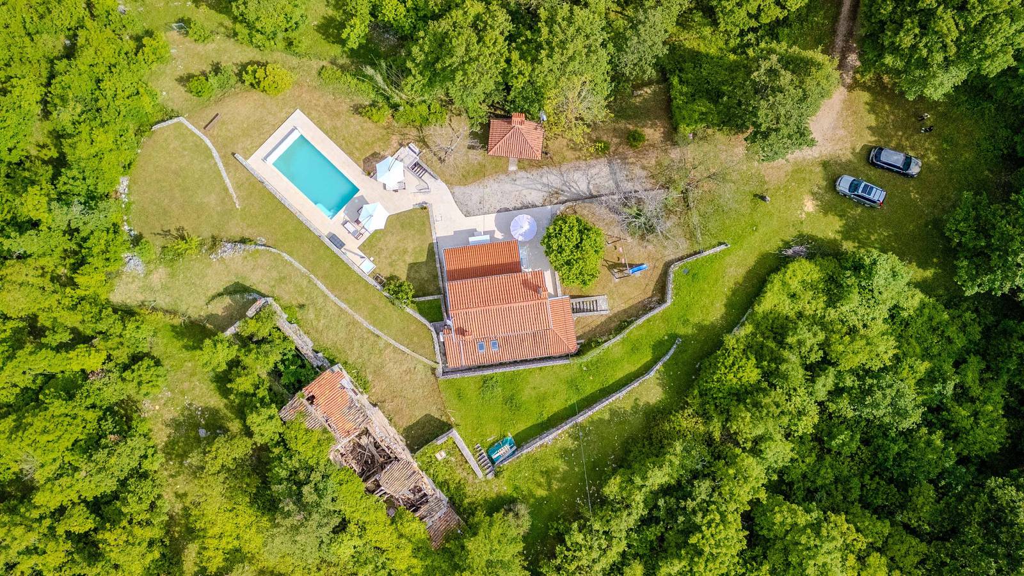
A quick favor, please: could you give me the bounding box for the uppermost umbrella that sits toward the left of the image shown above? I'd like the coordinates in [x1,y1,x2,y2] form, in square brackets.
[374,152,409,191]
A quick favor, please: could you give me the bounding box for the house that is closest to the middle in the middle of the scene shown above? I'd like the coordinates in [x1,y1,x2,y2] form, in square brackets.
[439,235,578,370]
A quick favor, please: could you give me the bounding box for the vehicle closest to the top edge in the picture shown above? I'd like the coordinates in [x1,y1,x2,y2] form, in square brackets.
[867,145,924,179]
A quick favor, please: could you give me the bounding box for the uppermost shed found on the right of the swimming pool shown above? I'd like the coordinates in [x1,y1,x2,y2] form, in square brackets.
[486,114,545,161]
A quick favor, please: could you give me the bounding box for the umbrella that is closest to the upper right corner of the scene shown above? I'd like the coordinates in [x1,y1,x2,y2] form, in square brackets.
[510,214,537,241]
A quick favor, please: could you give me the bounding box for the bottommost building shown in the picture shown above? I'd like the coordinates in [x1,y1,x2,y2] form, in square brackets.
[280,355,469,549]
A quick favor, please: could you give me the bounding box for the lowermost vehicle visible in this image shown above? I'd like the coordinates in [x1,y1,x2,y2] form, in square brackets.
[834,174,892,209]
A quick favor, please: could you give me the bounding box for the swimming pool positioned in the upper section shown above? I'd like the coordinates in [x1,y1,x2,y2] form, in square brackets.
[269,131,362,223]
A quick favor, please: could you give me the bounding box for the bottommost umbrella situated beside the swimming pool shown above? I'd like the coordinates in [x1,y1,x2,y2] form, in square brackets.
[354,198,392,236]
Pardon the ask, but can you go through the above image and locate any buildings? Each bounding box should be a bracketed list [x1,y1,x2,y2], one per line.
[280,355,469,549]
[486,114,545,161]
[439,235,578,370]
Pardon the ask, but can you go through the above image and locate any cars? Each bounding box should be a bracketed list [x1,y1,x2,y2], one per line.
[834,174,892,209]
[867,145,924,179]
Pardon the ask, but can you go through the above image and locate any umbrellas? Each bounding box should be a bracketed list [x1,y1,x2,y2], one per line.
[374,152,409,191]
[510,214,537,241]
[354,198,392,236]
